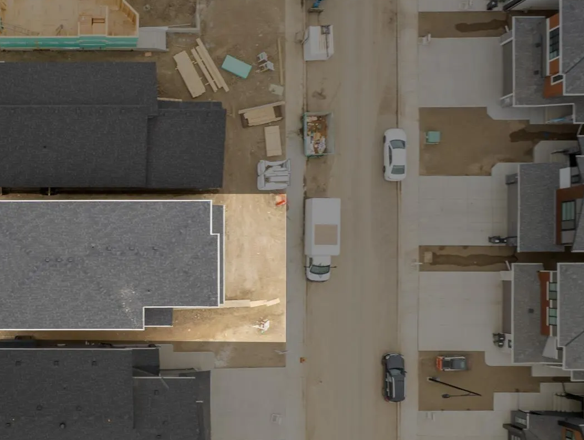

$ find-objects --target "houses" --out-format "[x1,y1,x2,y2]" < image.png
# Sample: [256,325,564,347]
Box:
[507,394,584,440]
[0,336,212,440]
[494,0,584,125]
[0,199,225,332]
[506,134,584,254]
[0,0,199,52]
[0,61,226,199]
[502,261,584,383]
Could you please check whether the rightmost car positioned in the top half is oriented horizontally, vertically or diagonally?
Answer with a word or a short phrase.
vertically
